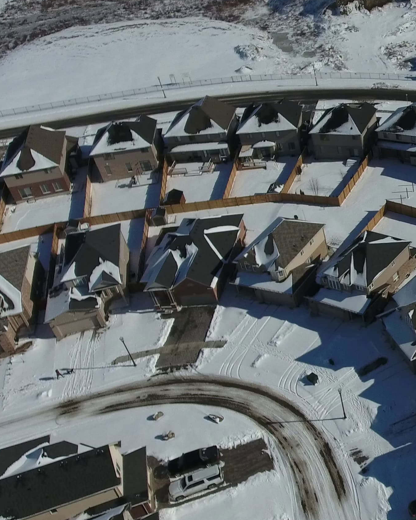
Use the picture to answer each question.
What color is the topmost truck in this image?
black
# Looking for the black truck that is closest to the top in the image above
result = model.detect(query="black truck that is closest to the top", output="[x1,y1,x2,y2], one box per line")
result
[165,447,224,481]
